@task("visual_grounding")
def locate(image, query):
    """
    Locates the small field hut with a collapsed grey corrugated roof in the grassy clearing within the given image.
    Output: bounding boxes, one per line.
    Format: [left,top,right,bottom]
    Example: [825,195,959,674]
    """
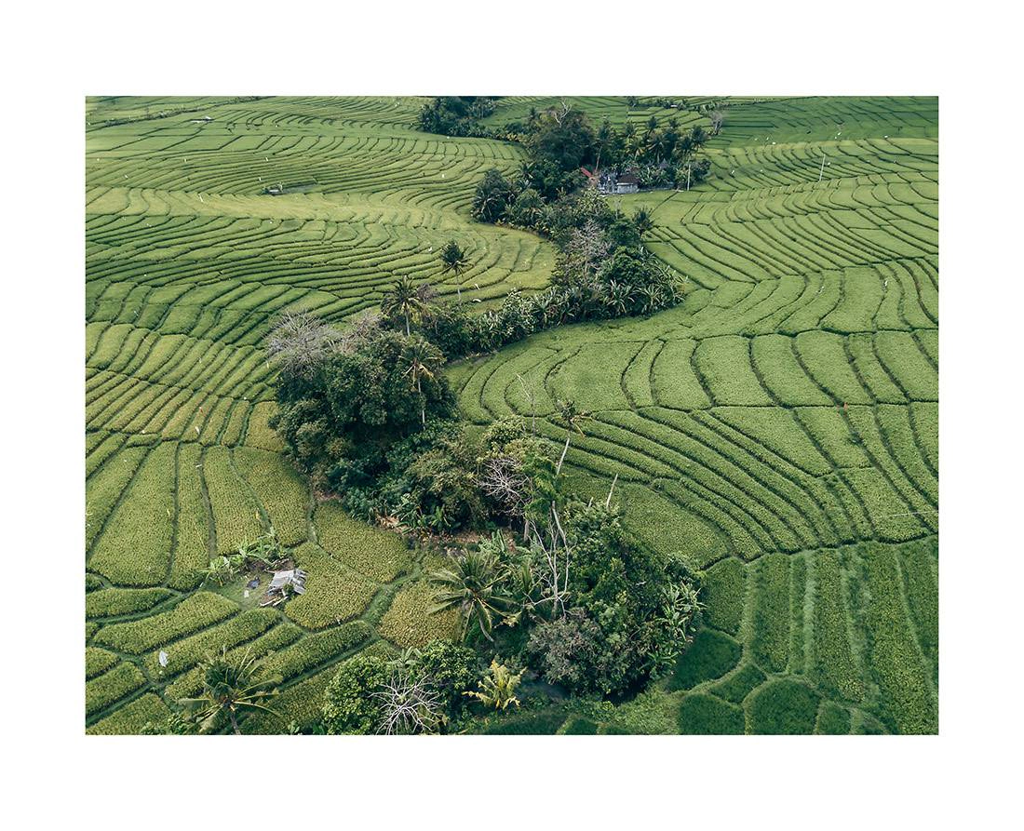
[267,570,306,602]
